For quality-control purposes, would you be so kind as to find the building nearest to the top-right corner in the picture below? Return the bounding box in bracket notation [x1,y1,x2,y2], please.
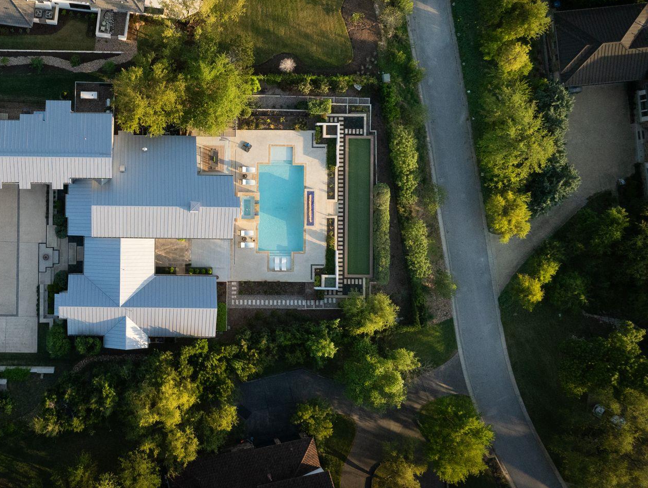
[545,2,648,88]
